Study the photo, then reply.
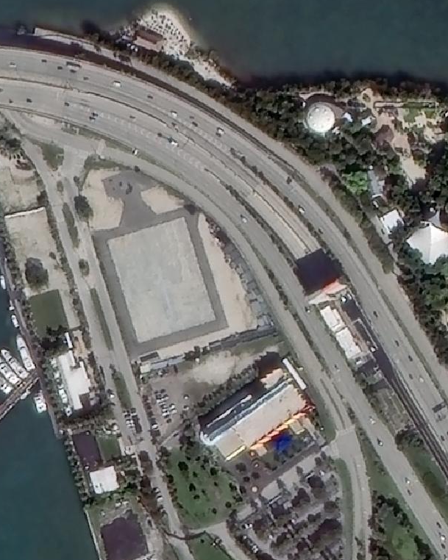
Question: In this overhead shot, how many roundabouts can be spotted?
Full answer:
The count of roundabouts is 0.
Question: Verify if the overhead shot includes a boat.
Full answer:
Yes, a boat can be made out from above.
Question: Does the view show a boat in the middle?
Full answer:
No, I can find no boat in the middle.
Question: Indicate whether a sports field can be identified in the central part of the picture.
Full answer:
No, no sports field is visible in the central part of the picture.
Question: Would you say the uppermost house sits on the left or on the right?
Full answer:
The uppermost house sits on the left side.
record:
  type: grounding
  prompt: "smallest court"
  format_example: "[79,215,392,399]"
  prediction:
[98,436,122,462]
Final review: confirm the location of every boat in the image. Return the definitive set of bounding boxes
[3,350,28,381]
[0,358,22,386]
[0,376,13,396]
[11,315,19,328]
[1,276,7,290]
[35,391,45,413]
[18,335,34,371]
